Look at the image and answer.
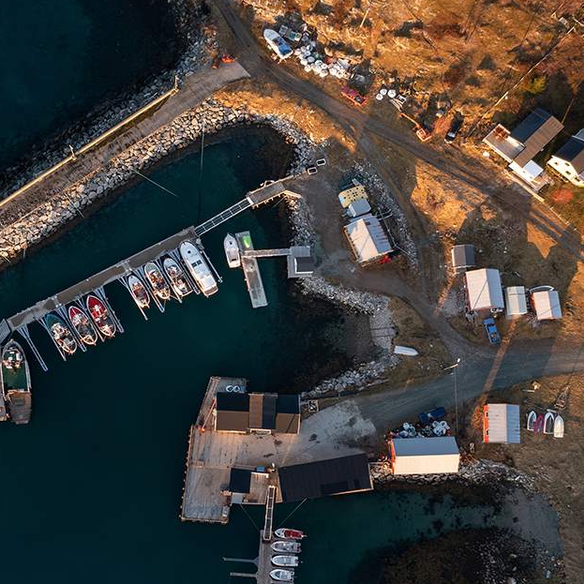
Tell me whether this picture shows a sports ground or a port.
port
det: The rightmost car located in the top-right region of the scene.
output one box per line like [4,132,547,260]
[446,127,460,142]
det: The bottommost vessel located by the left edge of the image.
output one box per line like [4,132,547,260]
[7,391,32,425]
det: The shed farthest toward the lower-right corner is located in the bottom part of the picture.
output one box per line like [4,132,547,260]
[482,403,522,444]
